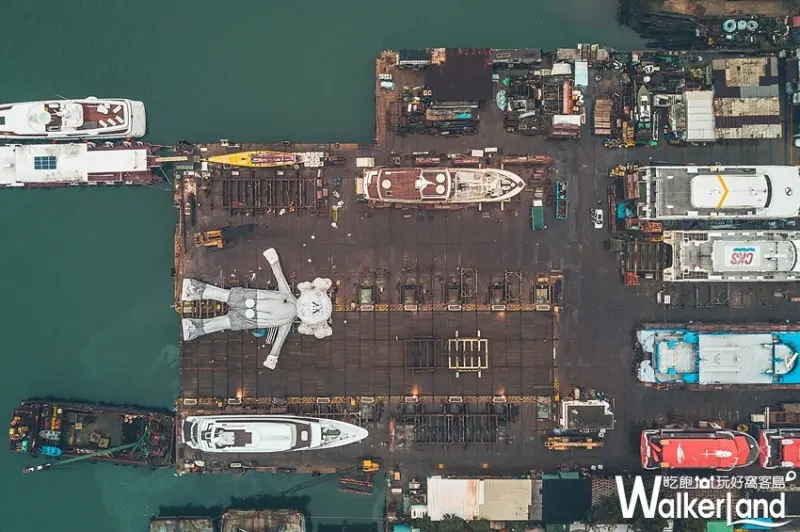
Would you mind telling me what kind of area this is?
port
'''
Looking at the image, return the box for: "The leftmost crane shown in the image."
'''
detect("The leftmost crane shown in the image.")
[194,224,262,248]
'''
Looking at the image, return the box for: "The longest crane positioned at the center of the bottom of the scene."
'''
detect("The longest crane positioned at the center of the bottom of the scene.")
[284,458,381,496]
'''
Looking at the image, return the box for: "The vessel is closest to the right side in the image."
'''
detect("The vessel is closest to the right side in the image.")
[754,429,800,470]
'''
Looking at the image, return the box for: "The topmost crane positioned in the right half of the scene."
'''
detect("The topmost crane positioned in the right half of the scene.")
[545,437,604,449]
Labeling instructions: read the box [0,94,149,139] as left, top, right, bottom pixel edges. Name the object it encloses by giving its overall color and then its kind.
white boat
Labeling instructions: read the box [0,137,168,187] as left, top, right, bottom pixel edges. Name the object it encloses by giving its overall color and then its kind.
white boat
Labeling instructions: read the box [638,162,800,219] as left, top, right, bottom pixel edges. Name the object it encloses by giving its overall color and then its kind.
white ship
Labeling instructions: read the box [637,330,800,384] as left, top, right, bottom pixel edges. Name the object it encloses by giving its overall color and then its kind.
white ship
